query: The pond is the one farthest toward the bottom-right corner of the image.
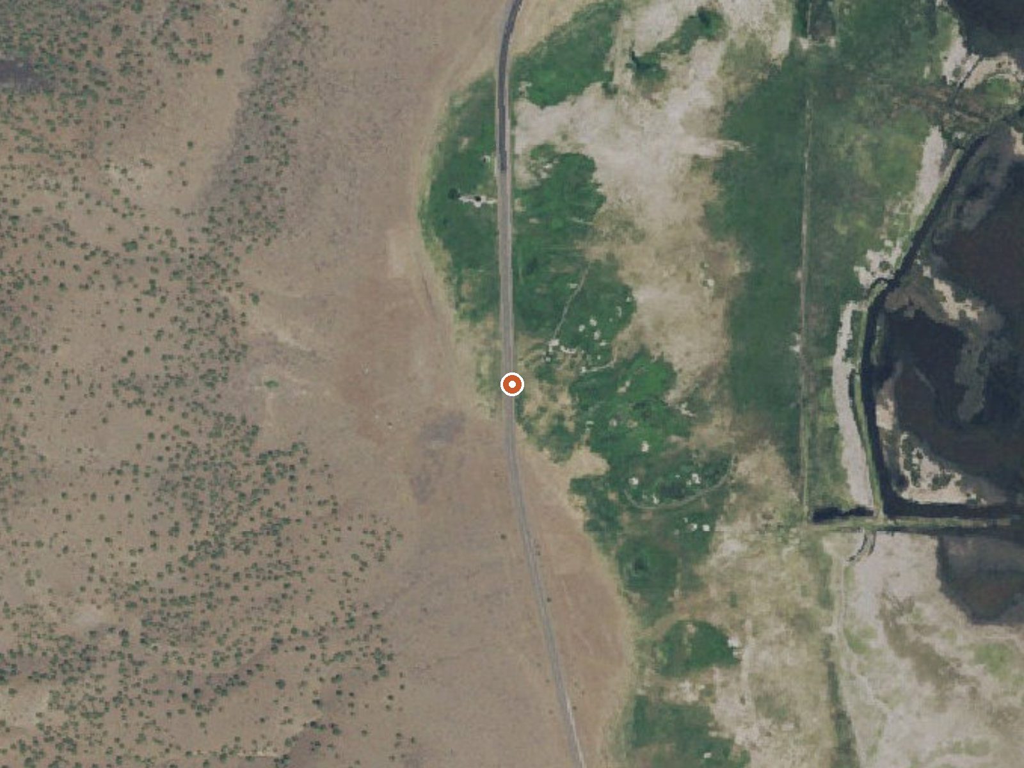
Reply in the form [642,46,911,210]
[936,530,1024,626]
